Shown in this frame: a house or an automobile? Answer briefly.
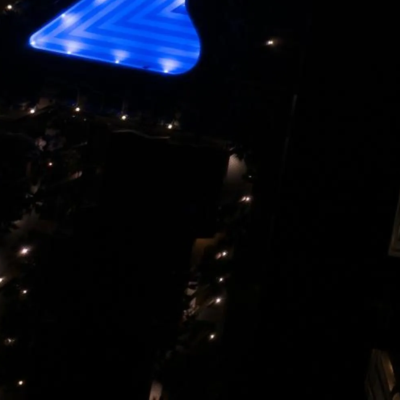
house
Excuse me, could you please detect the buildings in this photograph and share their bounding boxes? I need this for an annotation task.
[269,0,400,351]
[71,142,238,342]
